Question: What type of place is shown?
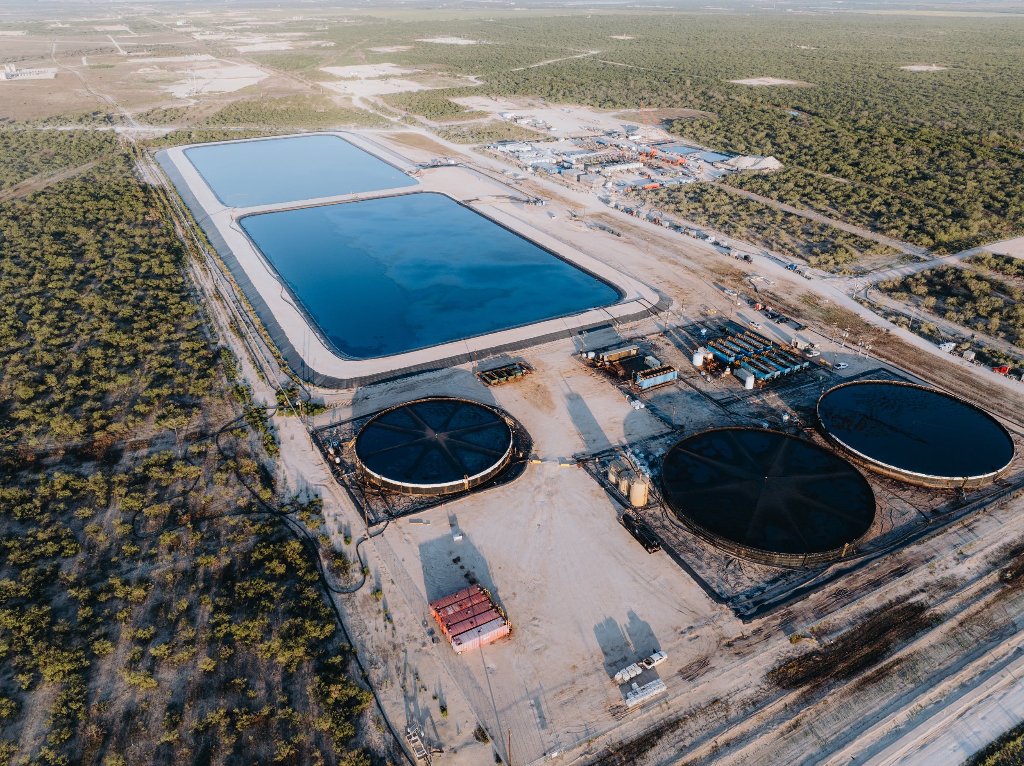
industrial area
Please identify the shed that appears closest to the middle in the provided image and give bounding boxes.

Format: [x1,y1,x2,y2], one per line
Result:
[599,342,642,361]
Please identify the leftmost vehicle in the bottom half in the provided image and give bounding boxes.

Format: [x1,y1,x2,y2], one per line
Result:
[642,651,668,668]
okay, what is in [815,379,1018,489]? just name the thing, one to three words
water tank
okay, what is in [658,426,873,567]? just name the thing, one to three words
water tank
